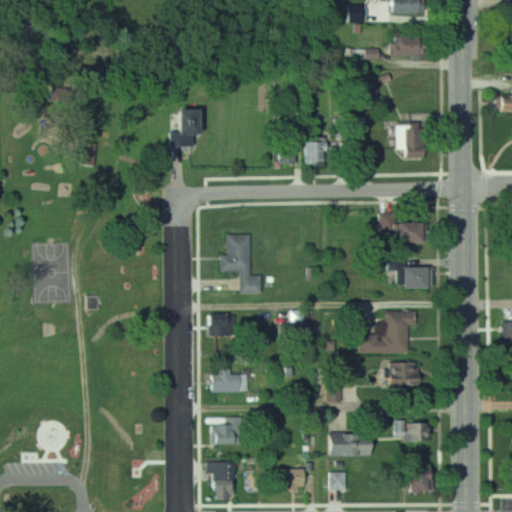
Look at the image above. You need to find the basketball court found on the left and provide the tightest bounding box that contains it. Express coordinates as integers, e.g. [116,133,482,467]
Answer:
[32,243,70,302]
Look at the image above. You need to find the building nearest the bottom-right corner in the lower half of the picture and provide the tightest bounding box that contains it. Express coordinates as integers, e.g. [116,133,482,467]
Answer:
[408,466,436,492]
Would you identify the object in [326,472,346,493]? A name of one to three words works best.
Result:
building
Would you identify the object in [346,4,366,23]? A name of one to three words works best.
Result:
building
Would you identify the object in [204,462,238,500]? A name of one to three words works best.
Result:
house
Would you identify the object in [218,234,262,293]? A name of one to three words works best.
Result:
house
